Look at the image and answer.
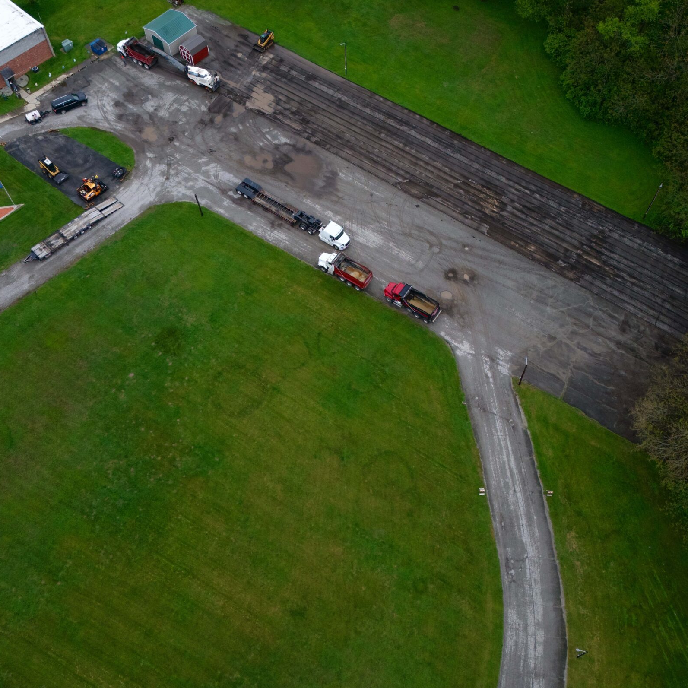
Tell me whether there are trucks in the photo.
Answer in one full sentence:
Yes, a truck is visible in the scene.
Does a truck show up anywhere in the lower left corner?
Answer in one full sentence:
No, there's no truck to be seen in the lower left corner.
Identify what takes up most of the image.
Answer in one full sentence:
For the most part, this view shows grass.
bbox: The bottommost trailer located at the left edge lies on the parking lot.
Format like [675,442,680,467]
[26,193,122,264]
